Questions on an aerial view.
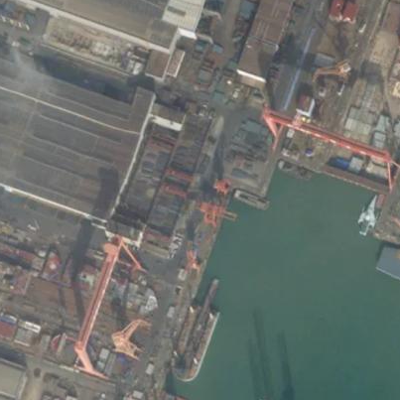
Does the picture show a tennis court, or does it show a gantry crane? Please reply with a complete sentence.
The image shows a gantry crane.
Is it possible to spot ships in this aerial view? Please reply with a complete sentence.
Yes, the image includes a ship.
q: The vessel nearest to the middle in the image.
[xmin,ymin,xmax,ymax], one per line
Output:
[233,190,269,210]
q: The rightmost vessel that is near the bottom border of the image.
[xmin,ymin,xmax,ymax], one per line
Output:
[172,280,220,381]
